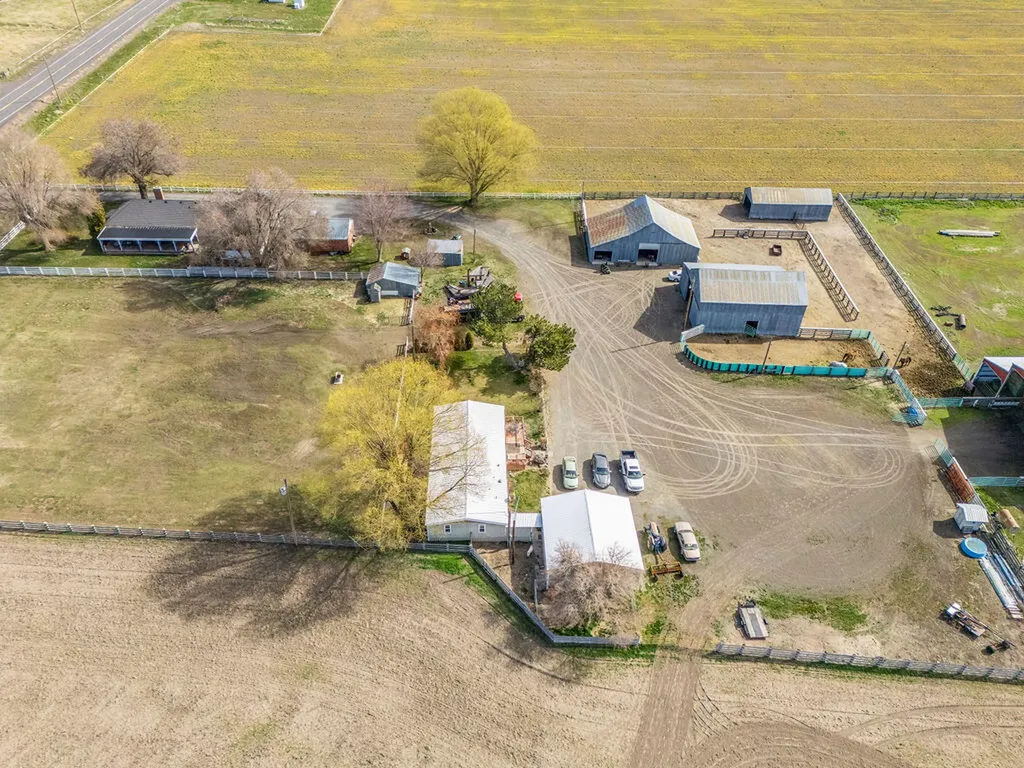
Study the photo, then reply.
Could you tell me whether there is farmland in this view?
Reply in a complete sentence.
Yes, some farmland is visible.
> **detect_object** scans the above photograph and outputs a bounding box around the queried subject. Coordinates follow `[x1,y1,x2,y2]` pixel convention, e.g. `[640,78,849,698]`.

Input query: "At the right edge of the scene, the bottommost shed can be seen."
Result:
[958,504,990,532]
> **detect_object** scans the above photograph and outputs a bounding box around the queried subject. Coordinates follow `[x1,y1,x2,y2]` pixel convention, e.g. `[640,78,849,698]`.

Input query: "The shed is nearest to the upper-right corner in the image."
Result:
[739,187,832,219]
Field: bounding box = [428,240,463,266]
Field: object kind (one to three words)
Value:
shed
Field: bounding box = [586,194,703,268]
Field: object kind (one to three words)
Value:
barn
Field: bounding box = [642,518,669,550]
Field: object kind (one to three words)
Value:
work vehicle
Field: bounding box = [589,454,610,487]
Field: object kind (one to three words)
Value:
car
